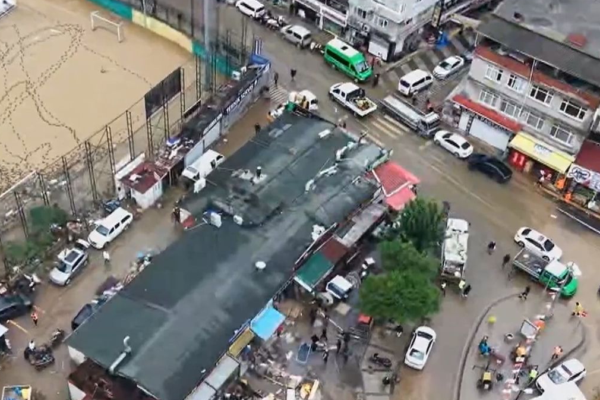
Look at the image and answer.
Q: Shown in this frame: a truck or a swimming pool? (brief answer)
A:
truck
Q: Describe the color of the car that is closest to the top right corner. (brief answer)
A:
white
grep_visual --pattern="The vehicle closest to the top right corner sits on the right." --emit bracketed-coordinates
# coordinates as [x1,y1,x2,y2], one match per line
[433,58,466,79]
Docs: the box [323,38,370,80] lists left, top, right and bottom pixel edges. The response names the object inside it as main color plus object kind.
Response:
green vehicle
